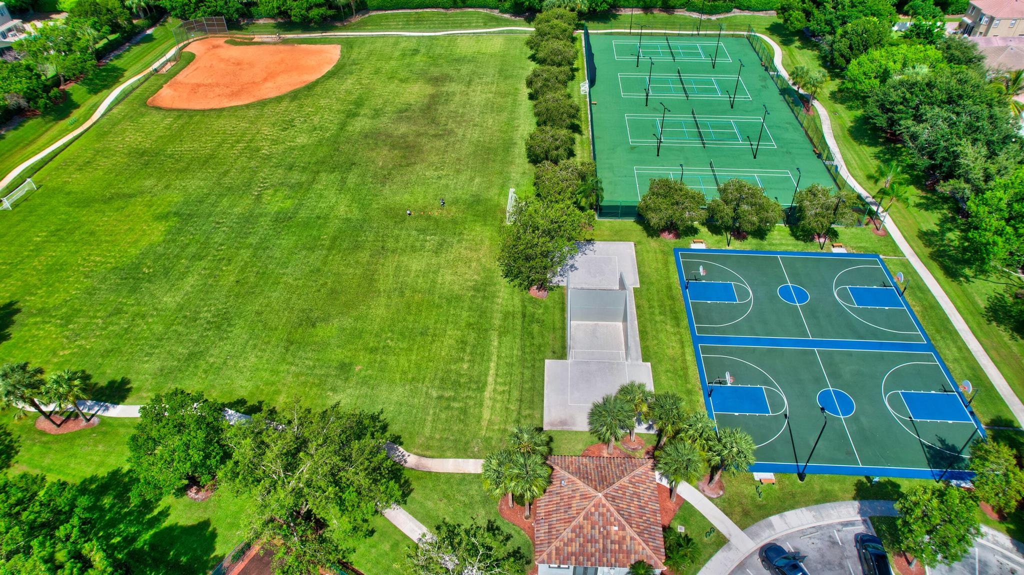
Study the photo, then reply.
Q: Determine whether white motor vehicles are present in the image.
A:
No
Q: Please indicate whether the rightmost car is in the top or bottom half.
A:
bottom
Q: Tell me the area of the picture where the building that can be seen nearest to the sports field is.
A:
bottom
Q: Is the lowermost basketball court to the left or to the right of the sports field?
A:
on the right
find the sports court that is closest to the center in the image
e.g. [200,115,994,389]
[543,239,655,434]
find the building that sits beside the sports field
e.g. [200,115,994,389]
[535,454,668,575]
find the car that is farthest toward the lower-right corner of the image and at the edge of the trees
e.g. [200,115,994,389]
[854,531,891,575]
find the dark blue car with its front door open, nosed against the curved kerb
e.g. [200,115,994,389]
[765,543,808,575]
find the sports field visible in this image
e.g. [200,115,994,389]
[0,35,543,454]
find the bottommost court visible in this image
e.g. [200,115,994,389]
[693,339,998,483]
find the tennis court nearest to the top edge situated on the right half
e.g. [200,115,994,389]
[589,35,764,68]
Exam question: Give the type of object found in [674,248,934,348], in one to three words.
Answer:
basketball court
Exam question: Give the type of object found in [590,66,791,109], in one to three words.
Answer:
tennis court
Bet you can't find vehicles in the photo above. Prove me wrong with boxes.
[765,543,808,575]
[854,531,891,575]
